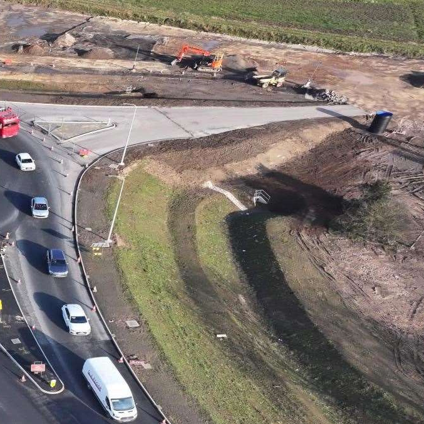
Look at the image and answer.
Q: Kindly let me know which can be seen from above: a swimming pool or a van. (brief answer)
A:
van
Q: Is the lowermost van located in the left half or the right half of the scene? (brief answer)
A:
left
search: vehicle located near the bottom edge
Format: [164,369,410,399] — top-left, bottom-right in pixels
[88,347,138,416]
